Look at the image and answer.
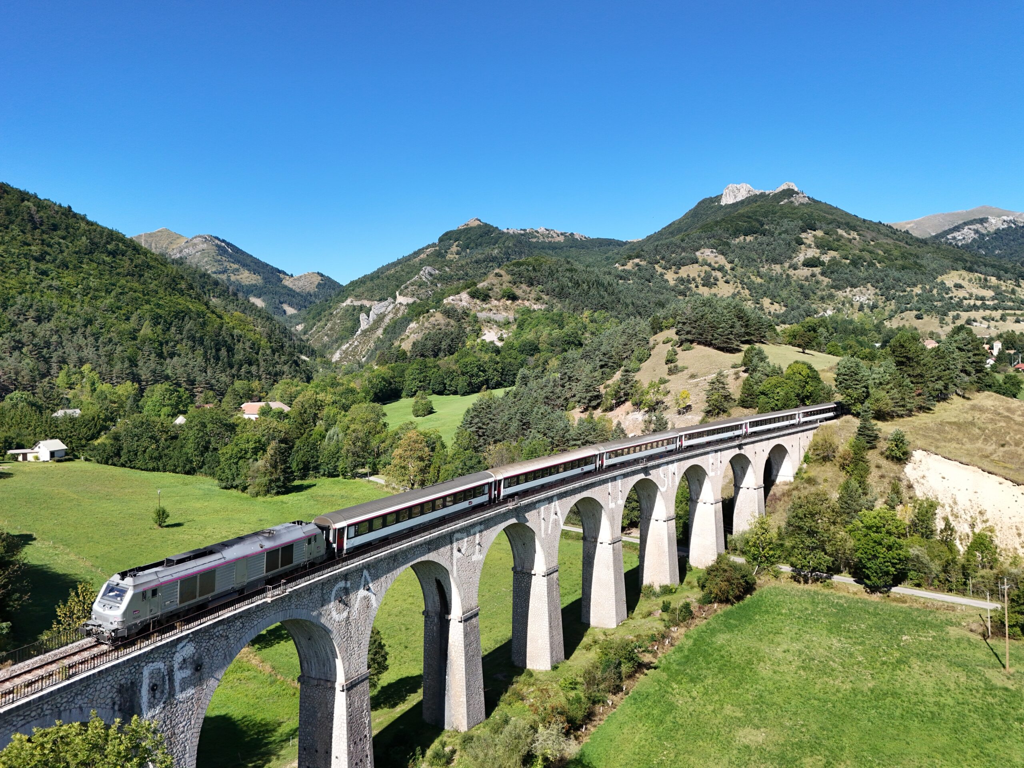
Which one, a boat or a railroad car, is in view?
railroad car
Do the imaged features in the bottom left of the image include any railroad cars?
Yes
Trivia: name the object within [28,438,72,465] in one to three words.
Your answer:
house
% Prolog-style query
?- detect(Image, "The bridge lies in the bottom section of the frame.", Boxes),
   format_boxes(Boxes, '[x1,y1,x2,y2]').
[0,421,813,768]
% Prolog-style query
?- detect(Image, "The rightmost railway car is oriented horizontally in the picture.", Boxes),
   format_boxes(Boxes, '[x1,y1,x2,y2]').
[789,403,841,427]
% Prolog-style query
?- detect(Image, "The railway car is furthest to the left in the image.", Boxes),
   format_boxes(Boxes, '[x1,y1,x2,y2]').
[79,517,330,644]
